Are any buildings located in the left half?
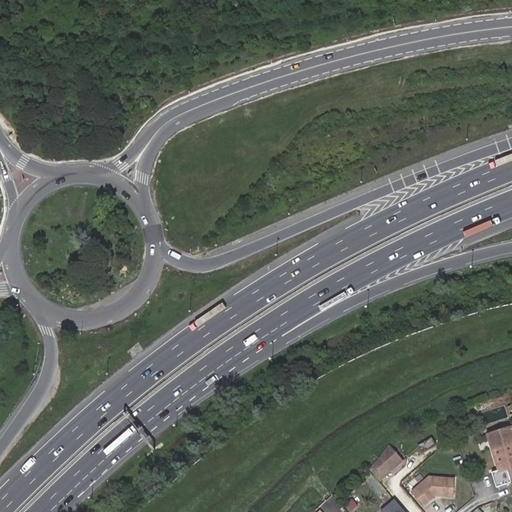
No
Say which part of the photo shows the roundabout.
left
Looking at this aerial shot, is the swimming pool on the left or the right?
right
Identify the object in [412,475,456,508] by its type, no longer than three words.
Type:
house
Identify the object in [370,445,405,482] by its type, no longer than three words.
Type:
house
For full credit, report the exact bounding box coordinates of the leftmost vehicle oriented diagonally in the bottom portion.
[19,456,37,474]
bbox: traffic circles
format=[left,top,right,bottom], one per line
[0,164,196,332]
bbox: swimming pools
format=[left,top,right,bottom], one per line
[480,404,510,426]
